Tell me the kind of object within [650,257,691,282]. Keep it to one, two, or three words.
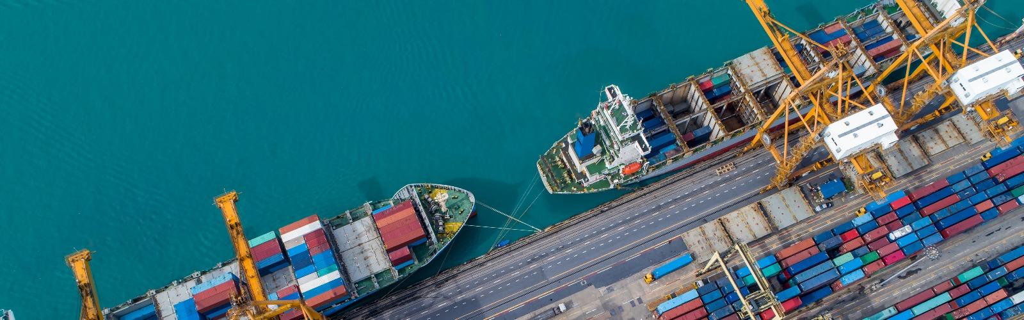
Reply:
shipping container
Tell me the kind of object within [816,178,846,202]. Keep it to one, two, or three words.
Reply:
shed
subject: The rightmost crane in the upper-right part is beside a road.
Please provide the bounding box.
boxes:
[850,0,1024,148]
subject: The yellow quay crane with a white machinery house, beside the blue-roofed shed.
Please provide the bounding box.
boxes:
[739,0,910,202]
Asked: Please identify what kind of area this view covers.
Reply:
port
